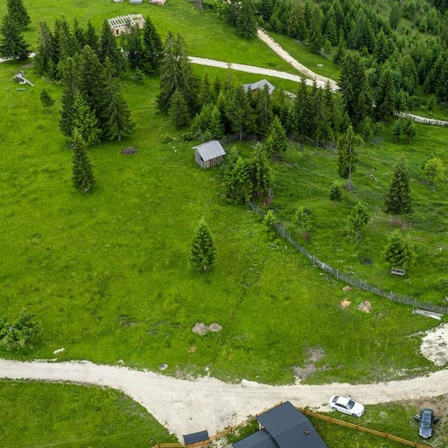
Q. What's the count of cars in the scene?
two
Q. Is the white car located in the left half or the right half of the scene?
right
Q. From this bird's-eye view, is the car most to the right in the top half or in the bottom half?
bottom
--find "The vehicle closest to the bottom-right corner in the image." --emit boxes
[411,405,443,440]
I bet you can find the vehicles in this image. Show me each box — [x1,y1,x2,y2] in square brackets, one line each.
[411,405,443,440]
[327,392,366,418]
